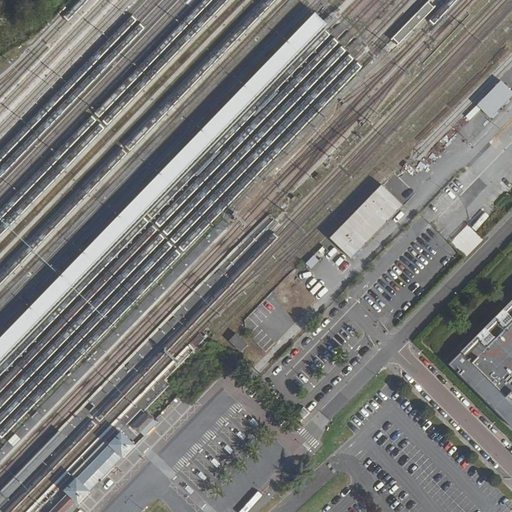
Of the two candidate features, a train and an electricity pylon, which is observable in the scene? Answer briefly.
train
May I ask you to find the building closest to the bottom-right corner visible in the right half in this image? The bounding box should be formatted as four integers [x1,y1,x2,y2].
[448,298,512,425]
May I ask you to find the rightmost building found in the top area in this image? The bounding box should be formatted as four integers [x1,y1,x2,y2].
[478,81,512,118]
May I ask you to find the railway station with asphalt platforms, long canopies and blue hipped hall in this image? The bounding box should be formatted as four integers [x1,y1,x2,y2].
[0,0,282,512]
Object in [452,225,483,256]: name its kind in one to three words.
building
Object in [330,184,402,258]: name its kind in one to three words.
building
